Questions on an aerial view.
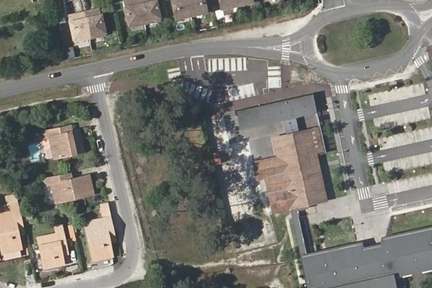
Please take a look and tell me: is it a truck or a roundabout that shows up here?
roundabout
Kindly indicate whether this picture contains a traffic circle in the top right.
Yes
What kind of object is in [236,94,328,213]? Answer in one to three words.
building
